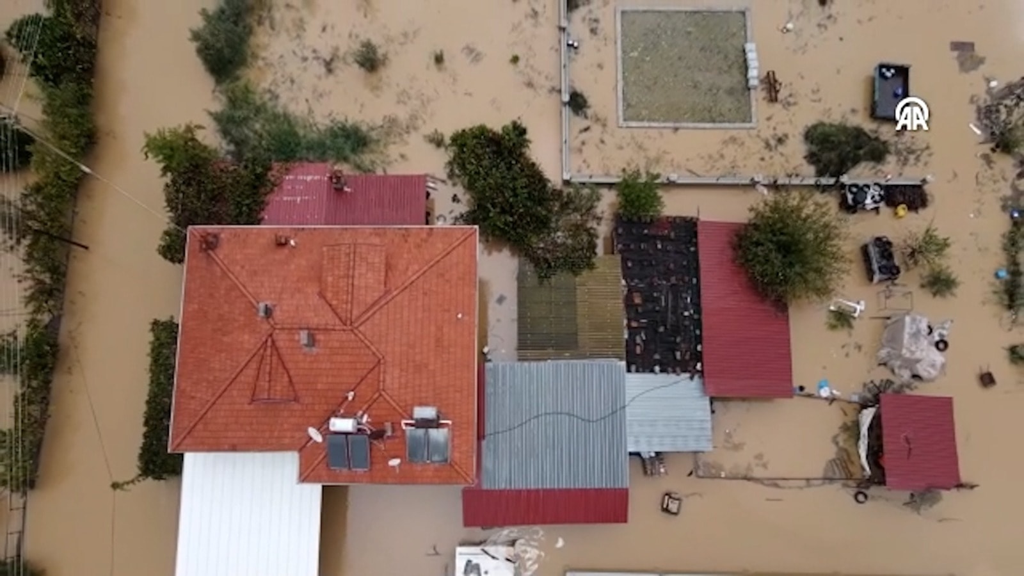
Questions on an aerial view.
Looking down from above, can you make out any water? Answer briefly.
Yes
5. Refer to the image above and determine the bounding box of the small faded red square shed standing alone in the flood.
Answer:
[861,394,961,490]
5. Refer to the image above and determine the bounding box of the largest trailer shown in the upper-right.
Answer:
[867,63,914,126]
